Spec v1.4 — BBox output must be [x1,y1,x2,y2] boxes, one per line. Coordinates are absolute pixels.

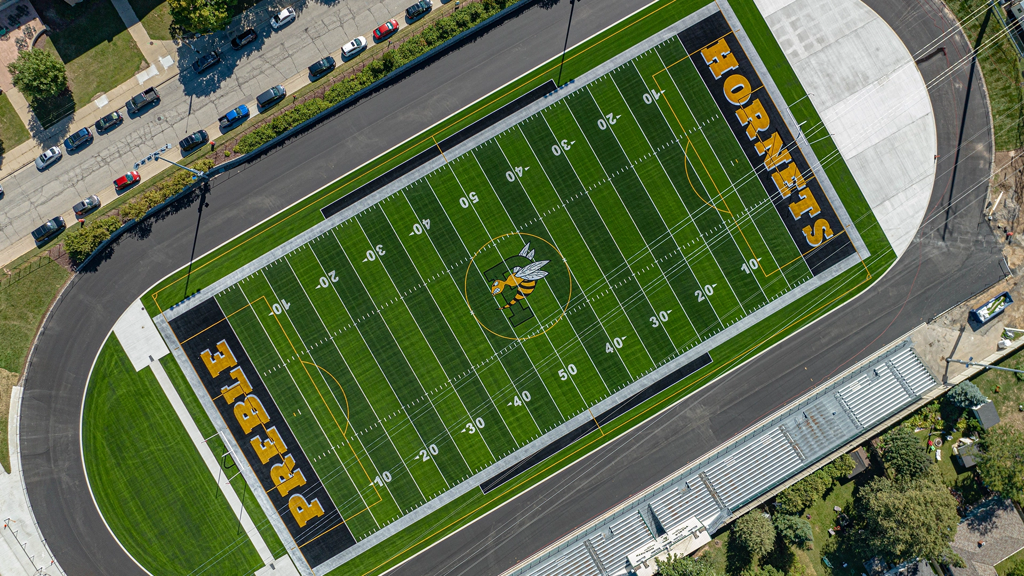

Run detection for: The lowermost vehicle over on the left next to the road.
[30,217,66,242]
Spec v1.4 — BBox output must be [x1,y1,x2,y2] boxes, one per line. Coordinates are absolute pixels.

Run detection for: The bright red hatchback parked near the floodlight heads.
[112,169,142,191]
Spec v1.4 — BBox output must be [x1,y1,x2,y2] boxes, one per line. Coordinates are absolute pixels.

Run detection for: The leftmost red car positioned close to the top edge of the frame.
[372,19,400,41]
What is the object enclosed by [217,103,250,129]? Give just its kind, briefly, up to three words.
truck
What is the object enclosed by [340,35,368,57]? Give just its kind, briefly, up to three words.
car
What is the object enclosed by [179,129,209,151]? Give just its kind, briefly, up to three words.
car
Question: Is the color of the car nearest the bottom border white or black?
black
